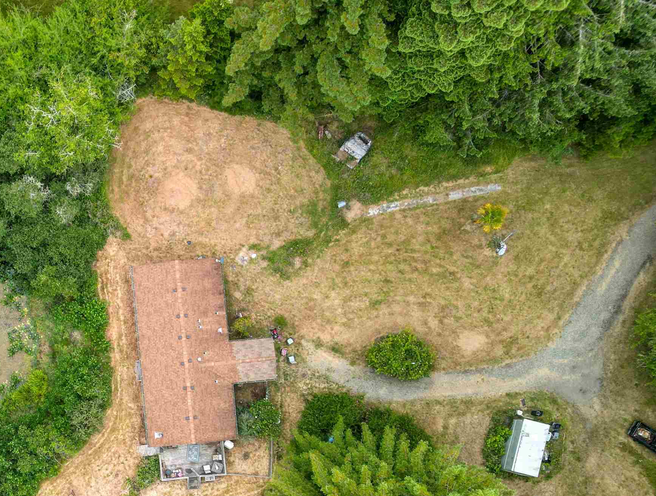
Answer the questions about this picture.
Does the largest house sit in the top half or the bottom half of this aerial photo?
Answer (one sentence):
The largest house is in the bottom half of the image.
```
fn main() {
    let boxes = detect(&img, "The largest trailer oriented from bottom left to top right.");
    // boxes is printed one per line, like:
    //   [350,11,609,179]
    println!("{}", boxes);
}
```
[331,130,372,172]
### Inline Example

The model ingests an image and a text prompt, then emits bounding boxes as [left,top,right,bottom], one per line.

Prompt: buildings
[495,418,550,477]
[130,257,276,450]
